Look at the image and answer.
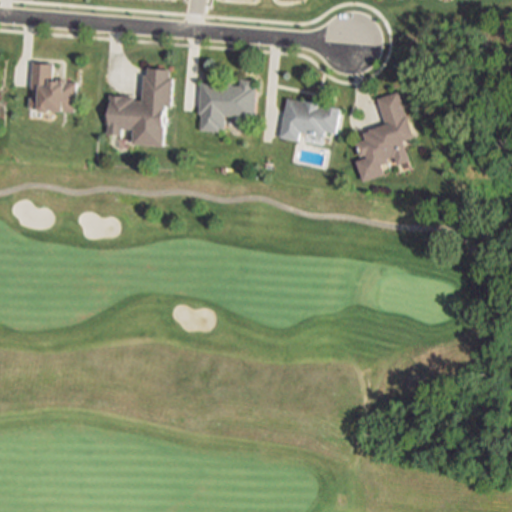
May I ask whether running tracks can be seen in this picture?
No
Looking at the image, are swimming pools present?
Yes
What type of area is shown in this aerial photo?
golf course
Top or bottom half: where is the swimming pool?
top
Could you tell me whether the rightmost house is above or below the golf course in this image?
above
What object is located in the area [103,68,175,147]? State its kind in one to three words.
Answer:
house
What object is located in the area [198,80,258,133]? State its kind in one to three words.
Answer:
house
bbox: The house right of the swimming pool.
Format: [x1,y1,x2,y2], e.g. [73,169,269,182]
[354,92,418,182]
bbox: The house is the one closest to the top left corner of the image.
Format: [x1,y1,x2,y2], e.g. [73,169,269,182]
[28,62,79,114]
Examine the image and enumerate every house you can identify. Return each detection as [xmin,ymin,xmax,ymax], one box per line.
[280,98,342,148]
[198,80,258,133]
[103,68,175,147]
[354,92,418,182]
[28,62,79,114]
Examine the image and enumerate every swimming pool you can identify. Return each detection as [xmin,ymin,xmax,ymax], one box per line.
[293,134,332,170]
